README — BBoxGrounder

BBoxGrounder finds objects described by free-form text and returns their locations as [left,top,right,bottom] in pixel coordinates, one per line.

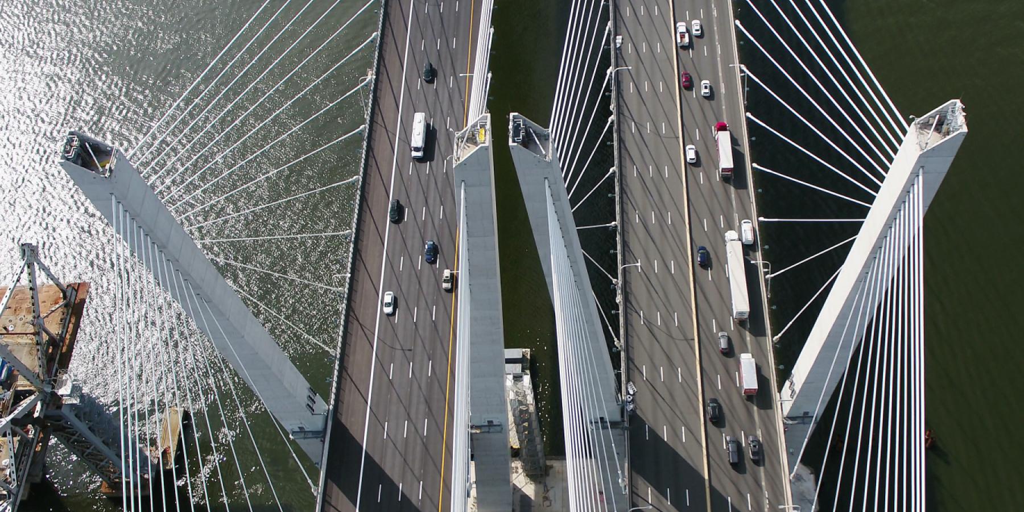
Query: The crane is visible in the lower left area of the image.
[0,241,158,512]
